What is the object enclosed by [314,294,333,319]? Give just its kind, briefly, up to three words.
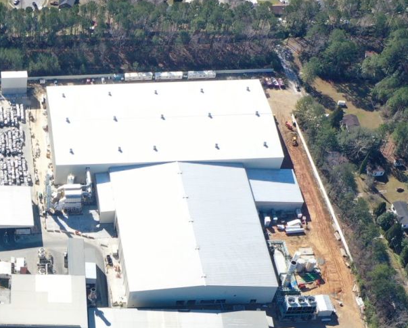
building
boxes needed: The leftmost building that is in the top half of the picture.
[0,70,27,95]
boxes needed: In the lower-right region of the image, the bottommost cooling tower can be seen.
[277,294,317,316]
